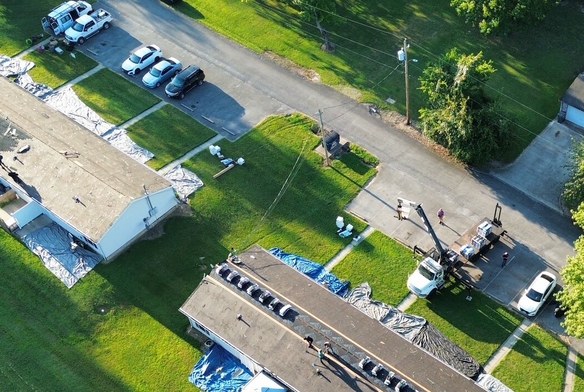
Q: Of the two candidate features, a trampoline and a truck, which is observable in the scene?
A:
truck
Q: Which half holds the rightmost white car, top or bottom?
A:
bottom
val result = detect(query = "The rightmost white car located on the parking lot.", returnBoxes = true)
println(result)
[514,270,564,320]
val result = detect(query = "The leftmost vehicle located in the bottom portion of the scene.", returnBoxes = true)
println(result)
[386,199,511,309]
